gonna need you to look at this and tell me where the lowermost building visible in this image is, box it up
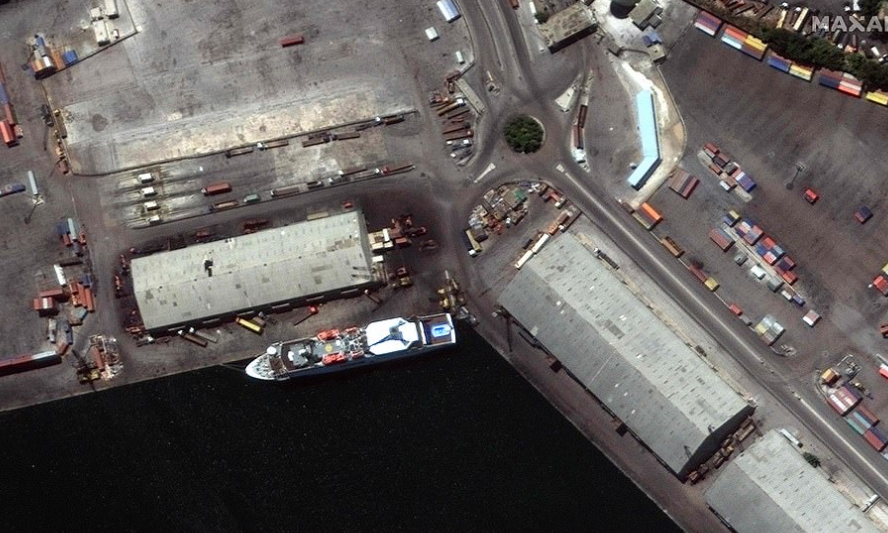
[705,430,881,533]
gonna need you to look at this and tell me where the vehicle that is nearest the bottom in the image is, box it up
[864,495,881,513]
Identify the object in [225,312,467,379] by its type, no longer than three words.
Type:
ship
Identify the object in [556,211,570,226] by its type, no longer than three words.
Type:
vehicle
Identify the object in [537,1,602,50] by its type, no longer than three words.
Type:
building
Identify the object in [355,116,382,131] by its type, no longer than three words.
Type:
vehicle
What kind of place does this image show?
port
